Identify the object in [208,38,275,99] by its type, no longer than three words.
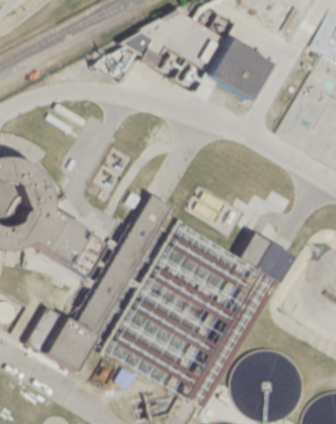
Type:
shed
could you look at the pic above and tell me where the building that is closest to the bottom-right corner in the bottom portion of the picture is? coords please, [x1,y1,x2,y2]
[257,243,290,282]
